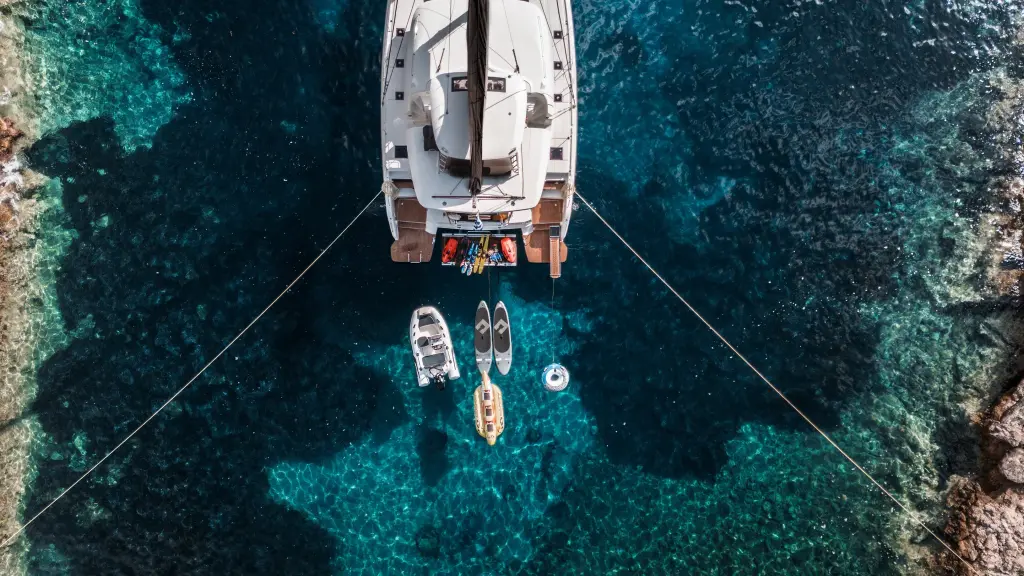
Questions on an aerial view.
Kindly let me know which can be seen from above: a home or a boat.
boat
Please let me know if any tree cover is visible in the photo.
No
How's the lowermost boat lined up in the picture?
up and down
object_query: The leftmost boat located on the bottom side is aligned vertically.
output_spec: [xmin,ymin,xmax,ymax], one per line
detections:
[412,305,461,395]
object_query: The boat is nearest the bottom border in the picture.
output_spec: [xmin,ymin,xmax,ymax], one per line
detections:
[473,374,505,449]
